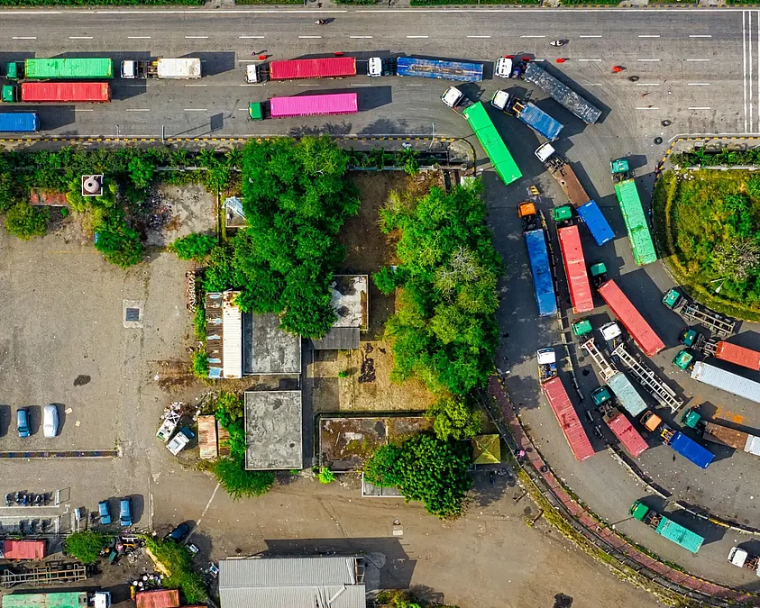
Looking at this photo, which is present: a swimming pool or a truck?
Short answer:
truck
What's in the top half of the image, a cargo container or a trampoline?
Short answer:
cargo container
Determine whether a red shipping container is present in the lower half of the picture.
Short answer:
Yes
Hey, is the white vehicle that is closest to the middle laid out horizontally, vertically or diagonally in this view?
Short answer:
vertically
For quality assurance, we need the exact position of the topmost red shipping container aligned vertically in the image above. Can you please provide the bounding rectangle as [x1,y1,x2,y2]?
[558,225,594,314]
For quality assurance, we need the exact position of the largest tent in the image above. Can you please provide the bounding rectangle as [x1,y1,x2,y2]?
[472,433,501,463]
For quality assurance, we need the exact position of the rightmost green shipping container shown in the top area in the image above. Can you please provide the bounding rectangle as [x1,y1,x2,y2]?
[615,179,659,268]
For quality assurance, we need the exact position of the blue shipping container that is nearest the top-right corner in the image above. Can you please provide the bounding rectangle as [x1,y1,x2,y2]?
[516,102,564,142]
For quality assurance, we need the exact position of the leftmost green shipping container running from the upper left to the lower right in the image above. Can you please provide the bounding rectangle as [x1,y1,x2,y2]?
[462,102,523,188]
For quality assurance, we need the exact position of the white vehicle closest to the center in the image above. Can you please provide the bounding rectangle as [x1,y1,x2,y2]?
[534,347,555,387]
